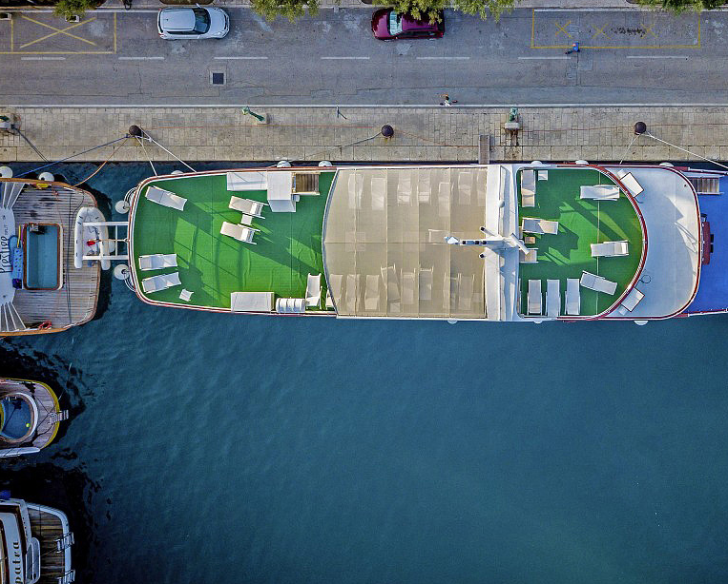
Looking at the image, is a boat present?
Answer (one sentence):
Yes, the picture does show a boat.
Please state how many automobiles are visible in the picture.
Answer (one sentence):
I count 2 automobiles.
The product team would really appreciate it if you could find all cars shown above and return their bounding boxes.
[374,8,444,41]
[158,2,231,40]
